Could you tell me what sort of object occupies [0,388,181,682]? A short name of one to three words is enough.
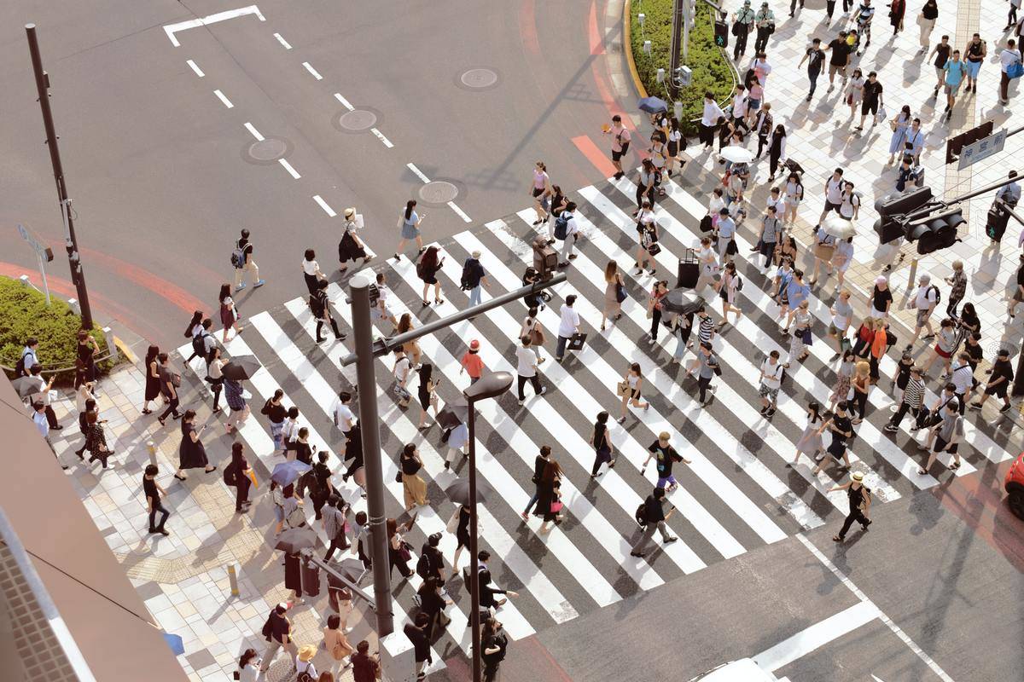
building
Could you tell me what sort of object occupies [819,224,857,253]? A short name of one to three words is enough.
umbrella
